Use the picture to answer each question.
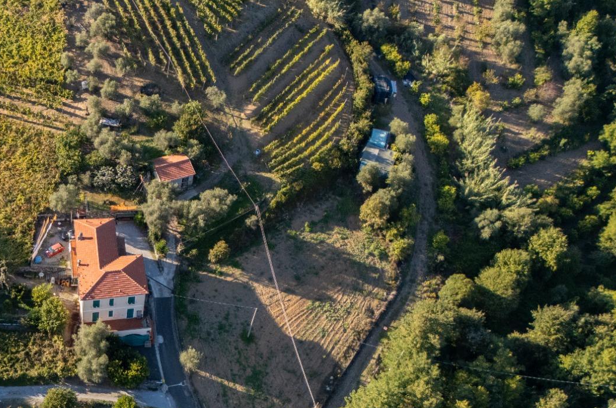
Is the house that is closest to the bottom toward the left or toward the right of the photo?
left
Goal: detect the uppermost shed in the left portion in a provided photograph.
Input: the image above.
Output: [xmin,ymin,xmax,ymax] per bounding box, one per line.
[147,151,195,191]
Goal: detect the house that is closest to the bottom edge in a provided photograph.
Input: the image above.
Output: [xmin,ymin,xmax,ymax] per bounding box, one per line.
[63,215,150,355]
